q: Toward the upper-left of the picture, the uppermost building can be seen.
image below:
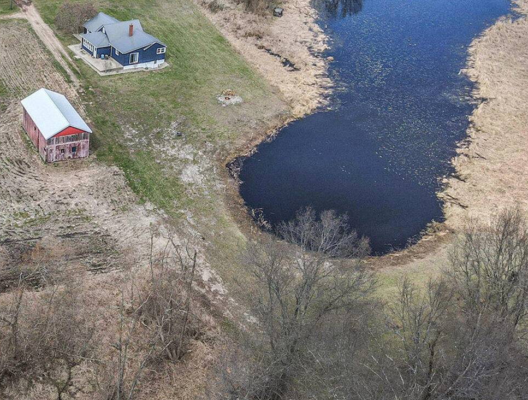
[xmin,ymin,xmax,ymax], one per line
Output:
[62,12,172,77]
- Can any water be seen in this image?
Yes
